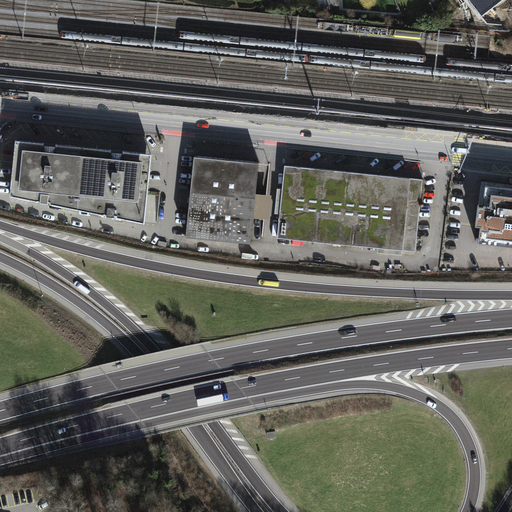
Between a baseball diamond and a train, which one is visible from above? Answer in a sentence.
The image shows a train.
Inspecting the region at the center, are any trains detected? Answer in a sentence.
No, no train appears at the center.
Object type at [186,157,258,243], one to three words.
building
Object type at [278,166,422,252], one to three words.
building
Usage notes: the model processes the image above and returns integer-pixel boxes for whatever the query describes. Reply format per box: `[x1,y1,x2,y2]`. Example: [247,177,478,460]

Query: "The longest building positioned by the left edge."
[9,140,151,224]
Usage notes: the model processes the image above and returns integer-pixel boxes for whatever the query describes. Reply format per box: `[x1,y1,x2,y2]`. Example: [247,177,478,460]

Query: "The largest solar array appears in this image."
[80,158,106,196]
